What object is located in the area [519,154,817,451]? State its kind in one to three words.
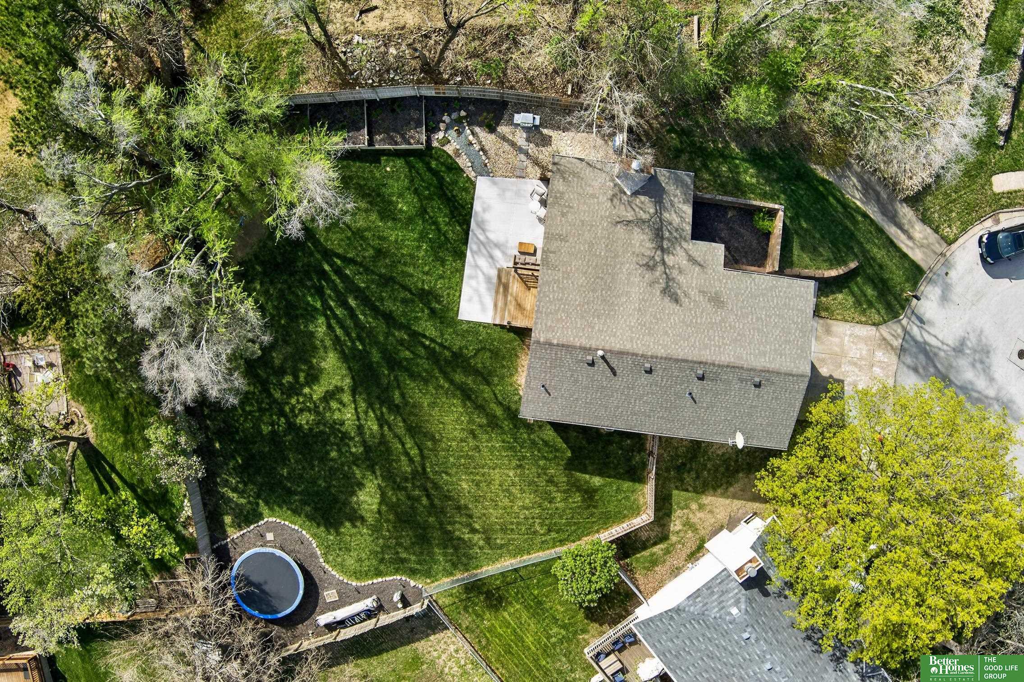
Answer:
house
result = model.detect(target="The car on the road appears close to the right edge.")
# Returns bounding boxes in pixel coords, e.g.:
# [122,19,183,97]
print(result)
[986,225,1024,265]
